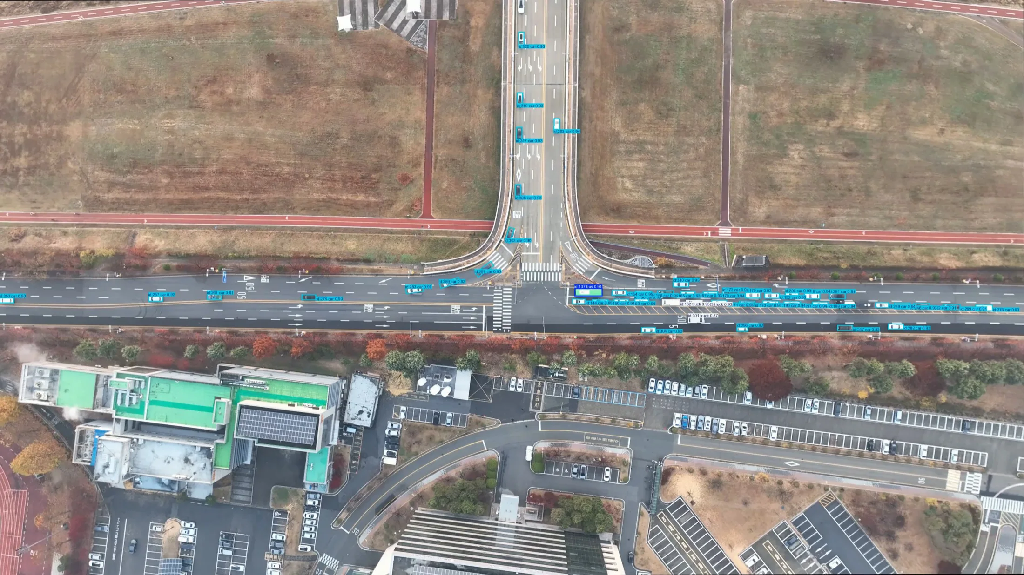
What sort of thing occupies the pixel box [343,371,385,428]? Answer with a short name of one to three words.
building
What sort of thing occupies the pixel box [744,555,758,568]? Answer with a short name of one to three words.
vehicle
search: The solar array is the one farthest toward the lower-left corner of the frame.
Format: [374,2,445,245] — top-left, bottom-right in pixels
[237,409,317,444]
